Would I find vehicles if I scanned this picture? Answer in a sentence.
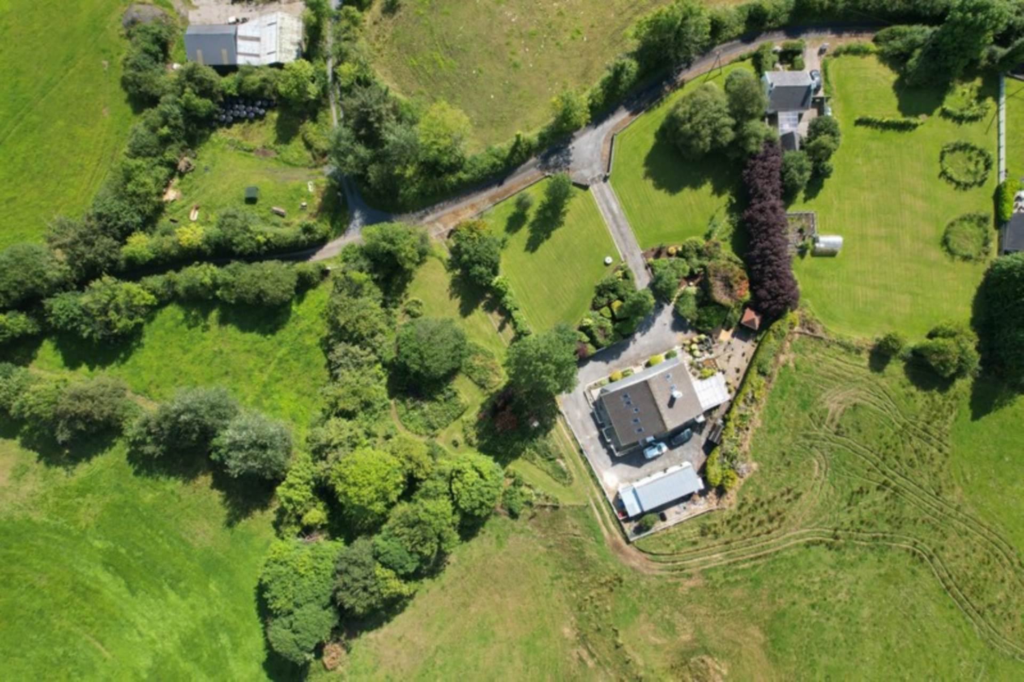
Yes, a vehicle is visible in the scene.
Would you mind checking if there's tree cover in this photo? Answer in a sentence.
Yes, some tree cover is visible.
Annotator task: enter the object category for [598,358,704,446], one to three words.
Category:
house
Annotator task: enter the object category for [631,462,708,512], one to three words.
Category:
building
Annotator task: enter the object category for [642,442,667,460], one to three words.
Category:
car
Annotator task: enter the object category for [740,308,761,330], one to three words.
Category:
gazebo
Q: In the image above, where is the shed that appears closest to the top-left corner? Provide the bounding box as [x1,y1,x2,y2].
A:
[184,25,241,72]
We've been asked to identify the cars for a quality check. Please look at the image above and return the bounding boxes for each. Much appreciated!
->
[642,442,667,460]
[809,69,822,93]
[668,429,693,447]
